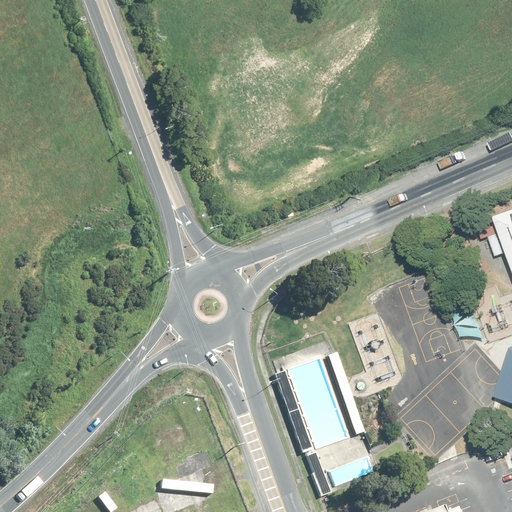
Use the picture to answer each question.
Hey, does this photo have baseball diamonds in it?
No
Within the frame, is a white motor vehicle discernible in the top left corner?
No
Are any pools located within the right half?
Yes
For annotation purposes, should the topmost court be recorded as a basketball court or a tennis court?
basketball court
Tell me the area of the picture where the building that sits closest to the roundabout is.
bottom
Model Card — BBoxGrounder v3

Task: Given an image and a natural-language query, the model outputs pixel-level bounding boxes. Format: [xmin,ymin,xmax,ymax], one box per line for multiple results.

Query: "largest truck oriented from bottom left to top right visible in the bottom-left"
[16,477,44,502]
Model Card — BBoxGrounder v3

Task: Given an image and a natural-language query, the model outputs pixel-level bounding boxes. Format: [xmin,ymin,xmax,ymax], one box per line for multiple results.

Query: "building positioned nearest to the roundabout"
[276,371,312,454]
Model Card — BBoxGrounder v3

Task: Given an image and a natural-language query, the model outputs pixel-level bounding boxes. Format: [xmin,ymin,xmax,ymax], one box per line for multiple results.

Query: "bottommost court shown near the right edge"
[402,348,500,456]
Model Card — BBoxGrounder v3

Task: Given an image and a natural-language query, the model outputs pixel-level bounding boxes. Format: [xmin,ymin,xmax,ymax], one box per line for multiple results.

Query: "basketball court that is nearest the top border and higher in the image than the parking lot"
[398,275,461,362]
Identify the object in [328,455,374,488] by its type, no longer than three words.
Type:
swimming pool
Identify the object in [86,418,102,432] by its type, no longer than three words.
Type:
car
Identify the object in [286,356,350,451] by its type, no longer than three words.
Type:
swimming pool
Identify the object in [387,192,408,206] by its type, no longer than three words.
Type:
vehicle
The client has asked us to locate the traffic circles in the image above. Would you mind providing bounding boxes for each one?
[193,288,228,324]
